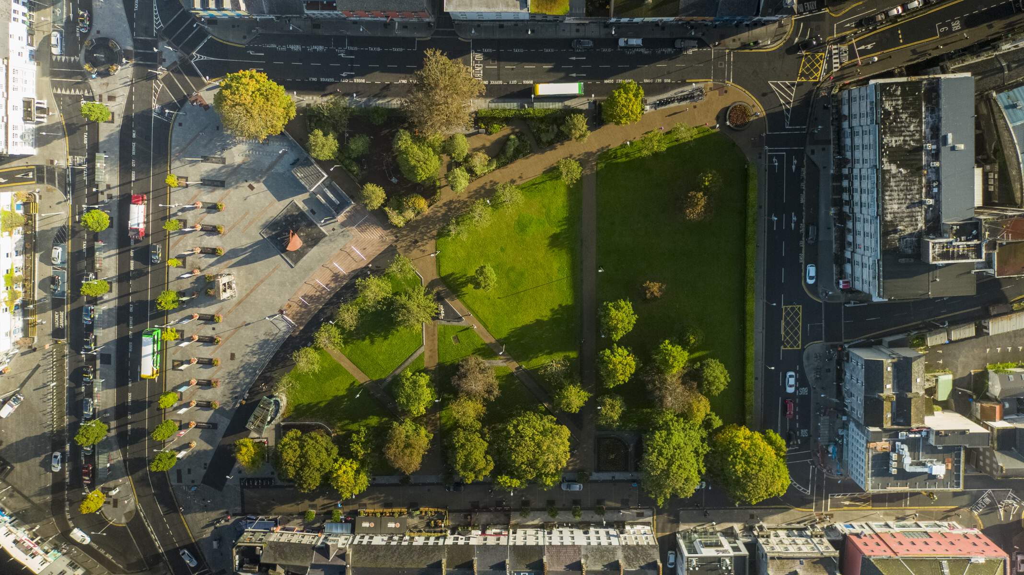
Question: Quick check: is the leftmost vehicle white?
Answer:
Yes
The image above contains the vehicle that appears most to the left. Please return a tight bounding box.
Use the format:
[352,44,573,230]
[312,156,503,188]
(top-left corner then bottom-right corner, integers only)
[0,393,26,417]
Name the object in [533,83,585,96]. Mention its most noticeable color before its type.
white vehicle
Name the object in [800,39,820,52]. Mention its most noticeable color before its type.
black vehicle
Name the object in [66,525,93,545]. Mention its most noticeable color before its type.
white vehicle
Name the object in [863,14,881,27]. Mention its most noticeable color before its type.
black vehicle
